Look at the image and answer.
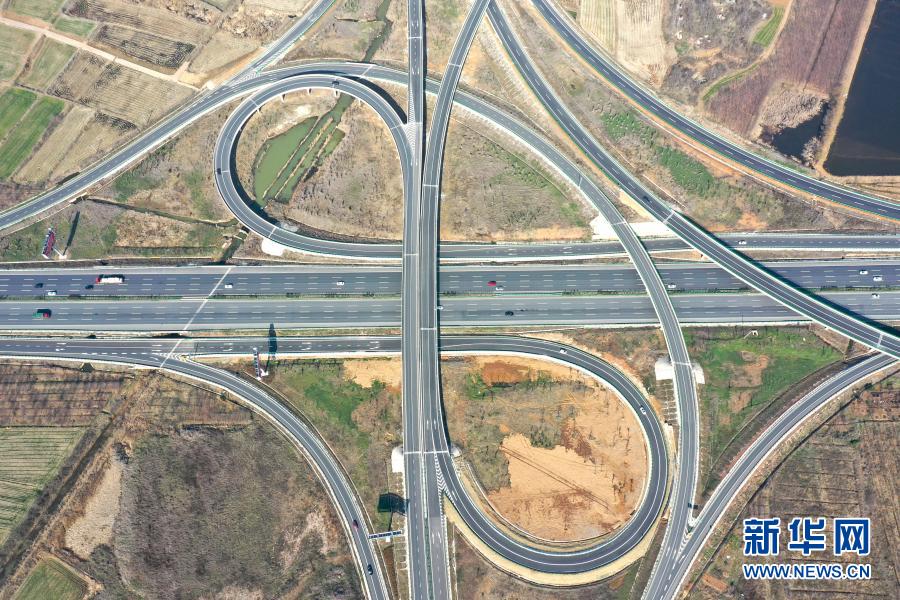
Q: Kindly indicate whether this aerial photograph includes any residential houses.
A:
No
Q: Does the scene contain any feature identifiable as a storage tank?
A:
No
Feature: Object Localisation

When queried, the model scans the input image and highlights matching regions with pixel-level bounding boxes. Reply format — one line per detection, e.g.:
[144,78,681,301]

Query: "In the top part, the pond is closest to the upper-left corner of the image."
[250,91,356,206]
